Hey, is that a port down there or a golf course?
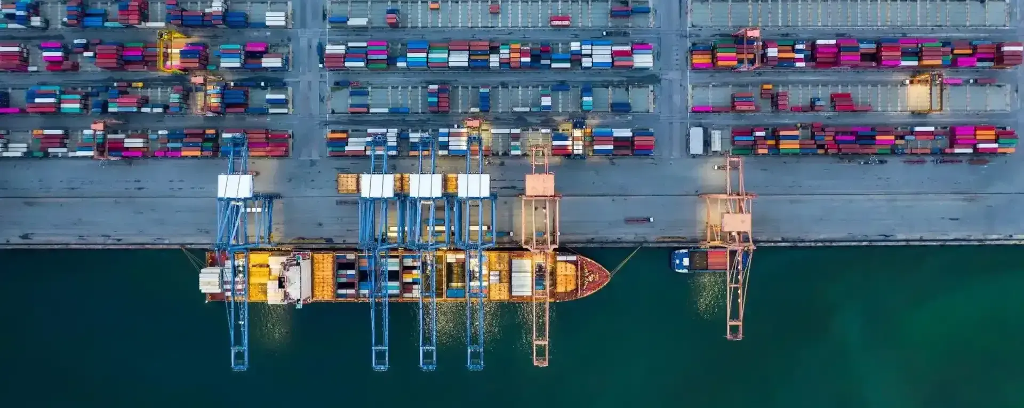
port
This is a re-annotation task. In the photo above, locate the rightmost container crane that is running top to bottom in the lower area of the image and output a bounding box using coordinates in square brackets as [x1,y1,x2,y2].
[691,152,763,341]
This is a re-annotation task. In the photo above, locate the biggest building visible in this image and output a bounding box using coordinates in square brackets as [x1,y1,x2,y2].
[687,127,703,155]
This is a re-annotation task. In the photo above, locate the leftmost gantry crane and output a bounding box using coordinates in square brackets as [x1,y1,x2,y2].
[91,120,127,160]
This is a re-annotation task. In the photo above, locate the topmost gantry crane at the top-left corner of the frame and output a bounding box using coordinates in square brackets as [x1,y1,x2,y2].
[158,31,196,76]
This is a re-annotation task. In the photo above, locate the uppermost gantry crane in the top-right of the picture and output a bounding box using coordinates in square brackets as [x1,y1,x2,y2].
[732,27,761,74]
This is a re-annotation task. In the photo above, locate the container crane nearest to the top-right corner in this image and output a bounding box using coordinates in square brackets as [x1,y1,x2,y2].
[910,71,946,114]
